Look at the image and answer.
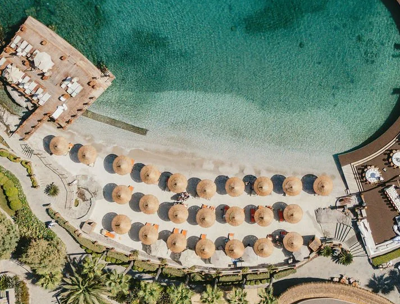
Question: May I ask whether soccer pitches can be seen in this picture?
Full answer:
No, there's no soccer pitch here.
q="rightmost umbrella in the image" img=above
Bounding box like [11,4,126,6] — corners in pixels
[312,175,334,195]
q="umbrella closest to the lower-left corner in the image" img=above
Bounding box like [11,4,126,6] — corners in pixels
[111,214,131,234]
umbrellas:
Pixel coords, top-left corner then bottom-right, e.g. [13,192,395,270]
[169,204,189,224]
[112,185,131,204]
[225,206,245,225]
[197,179,216,199]
[210,248,229,268]
[225,177,245,196]
[253,176,273,196]
[139,194,160,214]
[139,224,158,245]
[282,176,302,196]
[78,145,98,165]
[291,243,311,262]
[196,239,216,259]
[254,238,274,258]
[167,173,188,193]
[312,175,334,195]
[49,136,70,156]
[283,231,303,252]
[140,164,161,184]
[196,208,216,228]
[225,239,245,259]
[179,247,199,267]
[112,155,133,175]
[149,238,169,258]
[283,204,303,224]
[254,206,274,227]
[166,232,187,254]
[240,245,261,265]
[111,214,131,234]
